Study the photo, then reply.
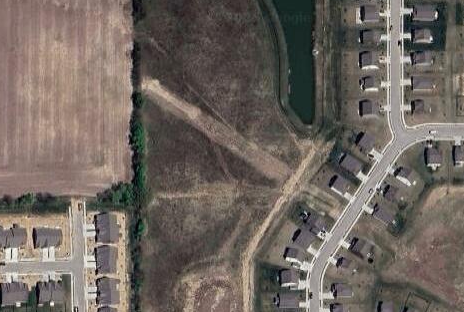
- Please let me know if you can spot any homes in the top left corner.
No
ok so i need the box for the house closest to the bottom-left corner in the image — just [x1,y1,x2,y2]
[3,281,30,311]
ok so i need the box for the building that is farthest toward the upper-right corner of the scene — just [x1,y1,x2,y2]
[414,5,440,22]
